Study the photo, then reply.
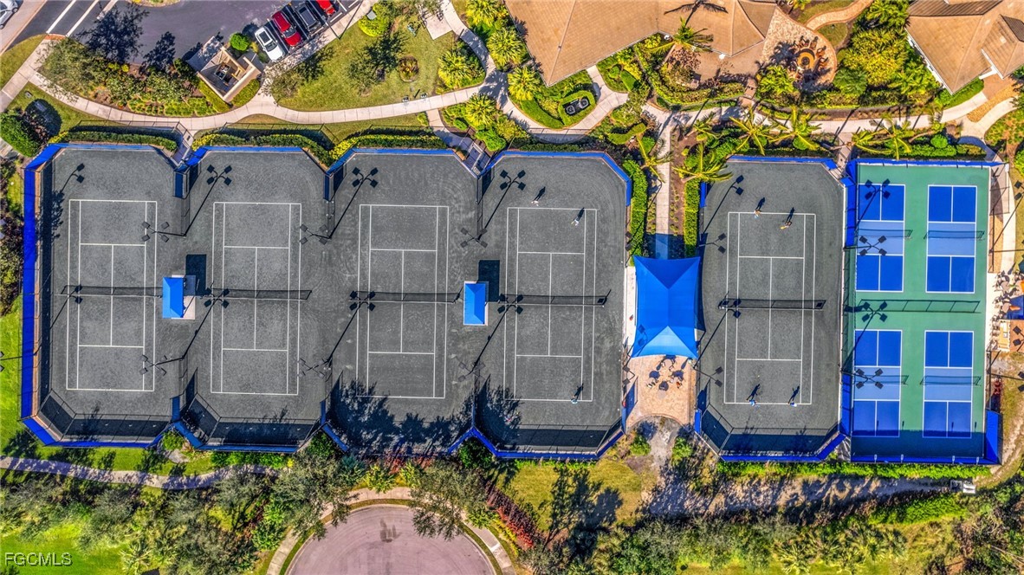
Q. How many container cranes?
none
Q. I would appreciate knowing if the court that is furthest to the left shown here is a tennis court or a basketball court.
tennis court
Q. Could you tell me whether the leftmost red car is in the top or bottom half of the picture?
top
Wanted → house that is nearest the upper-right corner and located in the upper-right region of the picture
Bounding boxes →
[903,0,1024,94]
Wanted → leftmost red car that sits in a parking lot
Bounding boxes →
[271,7,303,47]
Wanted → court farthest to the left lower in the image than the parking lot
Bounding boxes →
[36,150,184,441]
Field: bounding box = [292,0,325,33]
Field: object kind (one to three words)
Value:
car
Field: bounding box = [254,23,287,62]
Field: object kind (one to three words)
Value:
car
